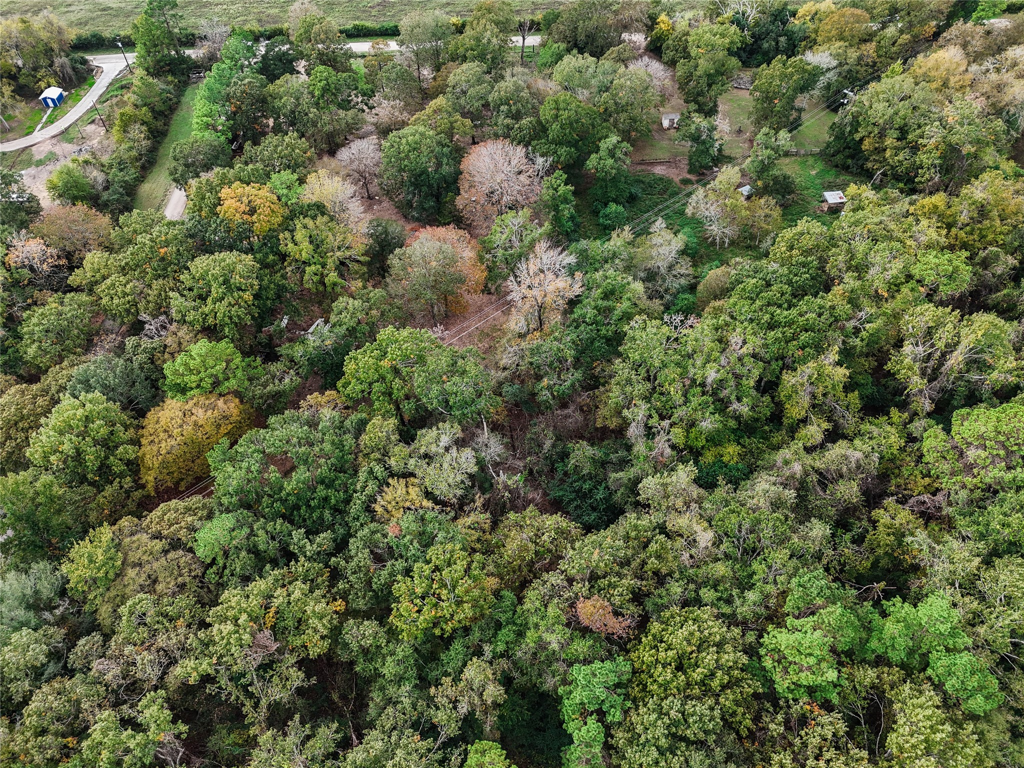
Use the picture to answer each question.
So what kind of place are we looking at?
forest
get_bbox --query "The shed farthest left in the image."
[39,83,66,107]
